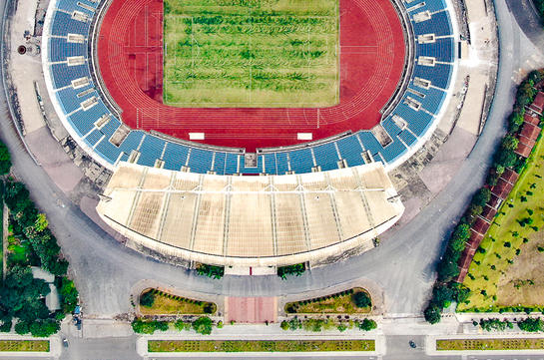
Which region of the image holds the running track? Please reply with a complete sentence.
Look in the top portion of the view to spot the running track.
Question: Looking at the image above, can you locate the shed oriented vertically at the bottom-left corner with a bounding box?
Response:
[46,282,60,311]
